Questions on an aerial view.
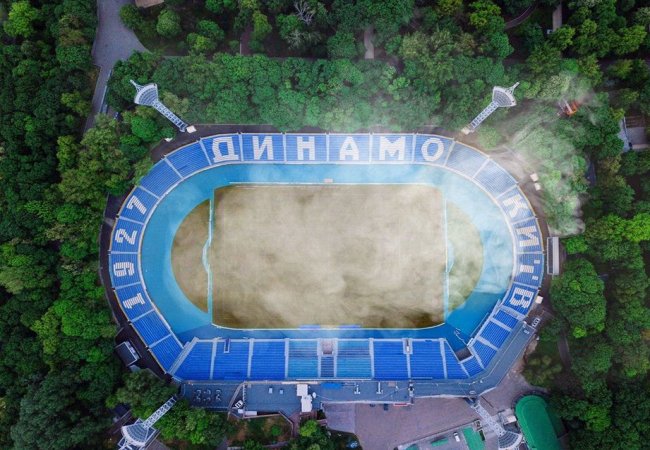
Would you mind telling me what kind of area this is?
sports ground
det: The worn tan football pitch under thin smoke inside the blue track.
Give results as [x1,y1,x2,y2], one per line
[171,185,484,329]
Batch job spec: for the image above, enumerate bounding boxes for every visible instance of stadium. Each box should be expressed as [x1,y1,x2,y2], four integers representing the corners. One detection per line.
[105,129,548,435]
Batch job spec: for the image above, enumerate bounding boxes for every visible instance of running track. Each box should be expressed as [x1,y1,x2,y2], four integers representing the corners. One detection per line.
[143,163,513,363]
